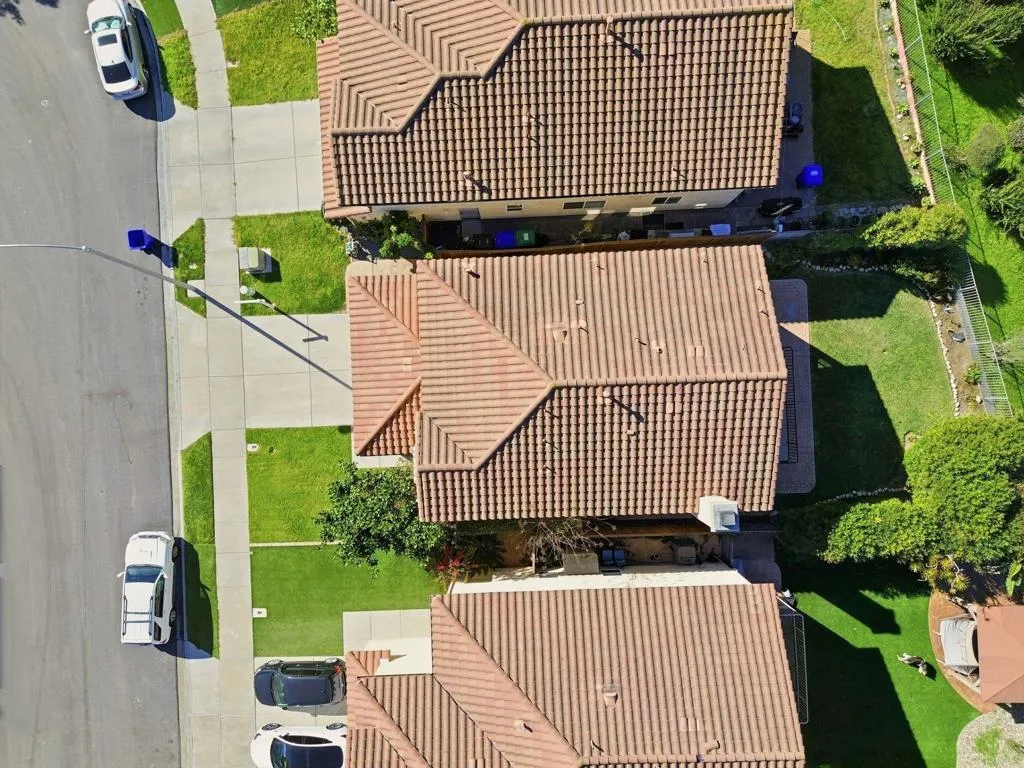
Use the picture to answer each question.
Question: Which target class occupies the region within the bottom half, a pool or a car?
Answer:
car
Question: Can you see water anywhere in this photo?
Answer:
No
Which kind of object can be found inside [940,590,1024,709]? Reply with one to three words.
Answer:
gazebo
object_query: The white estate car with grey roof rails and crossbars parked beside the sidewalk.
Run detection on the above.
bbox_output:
[118,531,179,645]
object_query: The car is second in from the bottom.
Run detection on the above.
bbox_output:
[254,659,347,712]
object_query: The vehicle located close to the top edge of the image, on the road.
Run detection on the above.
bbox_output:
[83,0,152,105]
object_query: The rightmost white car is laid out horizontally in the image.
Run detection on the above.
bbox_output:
[249,723,348,768]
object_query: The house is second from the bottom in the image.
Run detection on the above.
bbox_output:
[346,244,802,532]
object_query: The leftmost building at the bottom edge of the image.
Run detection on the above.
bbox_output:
[344,561,808,768]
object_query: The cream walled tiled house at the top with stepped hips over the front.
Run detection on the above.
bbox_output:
[317,0,798,237]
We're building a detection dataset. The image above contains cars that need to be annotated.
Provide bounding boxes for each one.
[118,531,179,645]
[83,0,152,105]
[254,659,347,712]
[249,723,348,768]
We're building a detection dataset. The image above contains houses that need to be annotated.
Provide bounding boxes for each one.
[317,0,798,237]
[344,561,808,768]
[346,244,802,532]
